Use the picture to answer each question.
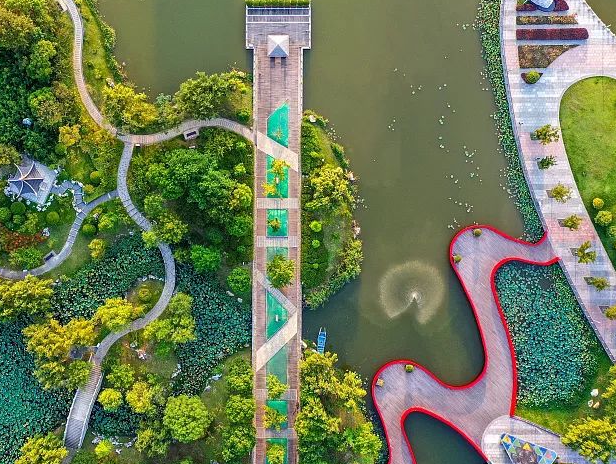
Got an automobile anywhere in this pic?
No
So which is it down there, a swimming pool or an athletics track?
swimming pool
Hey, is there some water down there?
Yes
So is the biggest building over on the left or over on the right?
left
